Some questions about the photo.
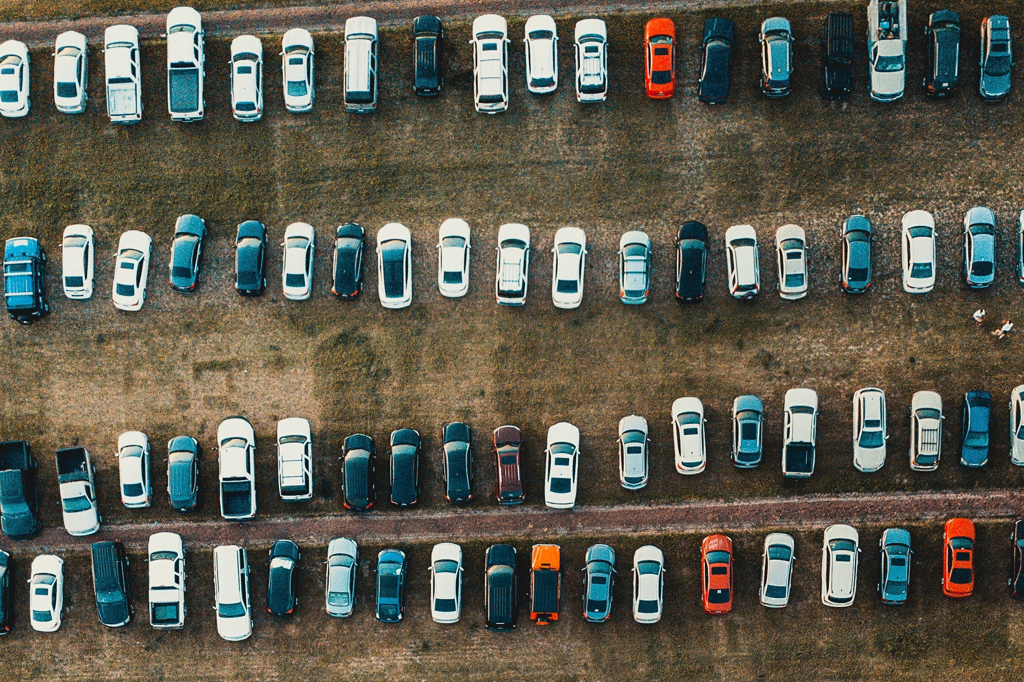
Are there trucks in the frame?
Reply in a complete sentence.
Yes, you can see a truck in this photo.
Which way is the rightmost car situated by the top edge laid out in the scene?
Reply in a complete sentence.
The rightmost car situated by the top edge has been laid out vertically relative to the frame.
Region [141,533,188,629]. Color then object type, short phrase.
white truck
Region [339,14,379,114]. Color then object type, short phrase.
white car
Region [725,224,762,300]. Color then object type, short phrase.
white car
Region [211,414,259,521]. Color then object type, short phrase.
white truck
